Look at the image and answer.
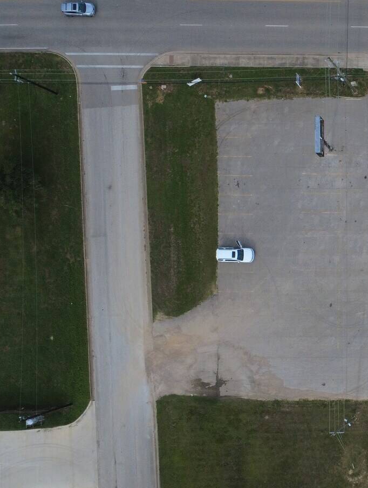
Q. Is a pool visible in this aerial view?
No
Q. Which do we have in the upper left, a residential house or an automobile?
automobile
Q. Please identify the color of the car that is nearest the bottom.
white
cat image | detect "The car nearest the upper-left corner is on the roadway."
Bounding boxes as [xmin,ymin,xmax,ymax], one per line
[59,1,97,17]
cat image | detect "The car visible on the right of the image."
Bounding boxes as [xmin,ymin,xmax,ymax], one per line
[216,241,255,263]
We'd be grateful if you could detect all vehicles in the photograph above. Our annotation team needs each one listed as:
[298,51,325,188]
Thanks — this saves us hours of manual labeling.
[216,241,255,263]
[59,1,97,17]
